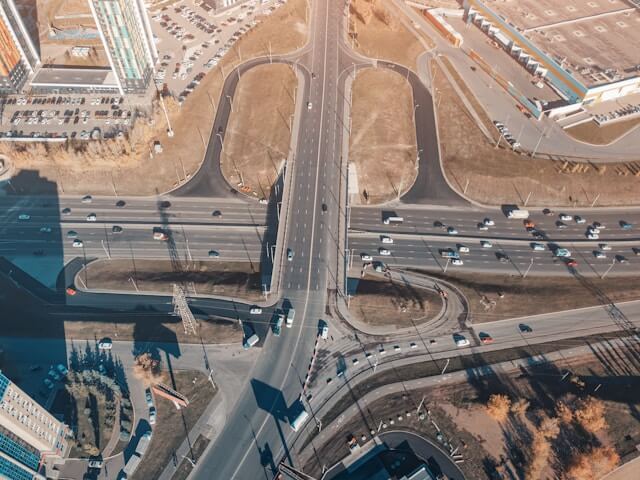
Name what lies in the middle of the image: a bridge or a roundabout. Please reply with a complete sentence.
You can see a bridge in the middle of the image.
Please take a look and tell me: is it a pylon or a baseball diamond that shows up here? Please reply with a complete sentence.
The image shows a pylon.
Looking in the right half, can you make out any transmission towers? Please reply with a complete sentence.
No, the scene shows no transmission tower in the right half.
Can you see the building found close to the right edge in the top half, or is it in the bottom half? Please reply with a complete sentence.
The top half of the photo is where the building found close to the right edge is.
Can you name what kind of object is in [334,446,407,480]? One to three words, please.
building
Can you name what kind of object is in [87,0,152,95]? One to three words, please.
building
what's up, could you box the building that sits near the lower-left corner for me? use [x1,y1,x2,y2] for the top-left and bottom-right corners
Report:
[0,372,75,480]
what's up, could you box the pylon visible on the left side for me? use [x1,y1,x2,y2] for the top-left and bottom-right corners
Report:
[166,277,196,337]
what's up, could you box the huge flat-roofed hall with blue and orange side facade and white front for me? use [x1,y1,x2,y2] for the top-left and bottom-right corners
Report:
[457,0,640,101]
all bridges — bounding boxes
[268,161,347,289]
